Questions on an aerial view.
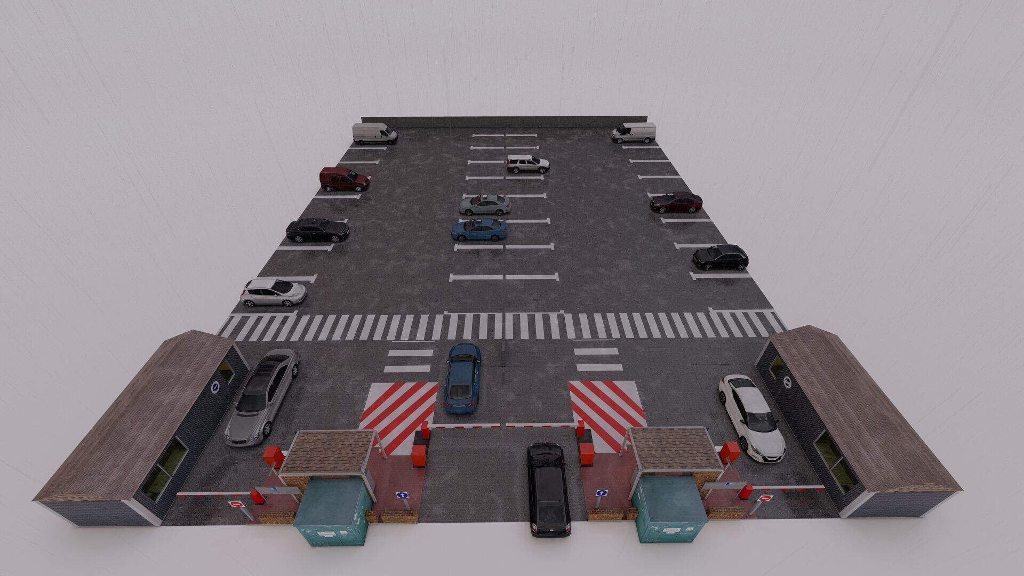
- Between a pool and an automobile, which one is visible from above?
automobile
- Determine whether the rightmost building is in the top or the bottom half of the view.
bottom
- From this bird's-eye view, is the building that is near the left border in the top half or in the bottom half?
bottom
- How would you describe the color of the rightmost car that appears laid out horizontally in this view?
black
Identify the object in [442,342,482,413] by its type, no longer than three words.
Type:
car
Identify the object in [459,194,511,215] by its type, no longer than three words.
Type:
car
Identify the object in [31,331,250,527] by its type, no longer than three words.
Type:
building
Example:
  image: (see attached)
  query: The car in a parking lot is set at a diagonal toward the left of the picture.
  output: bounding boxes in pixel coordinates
[221,349,300,446]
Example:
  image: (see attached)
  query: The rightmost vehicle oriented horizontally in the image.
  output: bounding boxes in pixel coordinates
[693,244,750,270]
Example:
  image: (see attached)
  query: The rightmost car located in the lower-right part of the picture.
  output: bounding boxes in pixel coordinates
[721,376,789,466]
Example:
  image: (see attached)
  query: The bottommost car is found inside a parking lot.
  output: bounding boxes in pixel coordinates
[525,442,575,541]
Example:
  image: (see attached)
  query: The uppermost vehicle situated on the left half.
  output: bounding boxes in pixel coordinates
[352,122,399,145]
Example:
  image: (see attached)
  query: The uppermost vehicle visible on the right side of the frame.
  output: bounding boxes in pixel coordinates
[611,122,657,143]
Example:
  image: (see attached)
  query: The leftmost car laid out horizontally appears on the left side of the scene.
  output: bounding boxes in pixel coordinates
[240,276,308,307]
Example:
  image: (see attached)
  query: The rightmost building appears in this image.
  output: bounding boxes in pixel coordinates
[755,327,964,518]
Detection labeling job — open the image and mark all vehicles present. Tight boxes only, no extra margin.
[721,376,789,466]
[221,349,300,446]
[650,191,705,213]
[318,168,369,192]
[285,218,350,242]
[525,442,575,541]
[508,154,552,173]
[442,342,482,413]
[611,122,657,143]
[451,218,508,241]
[240,276,308,307]
[459,194,511,215]
[693,244,750,270]
[352,122,399,145]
